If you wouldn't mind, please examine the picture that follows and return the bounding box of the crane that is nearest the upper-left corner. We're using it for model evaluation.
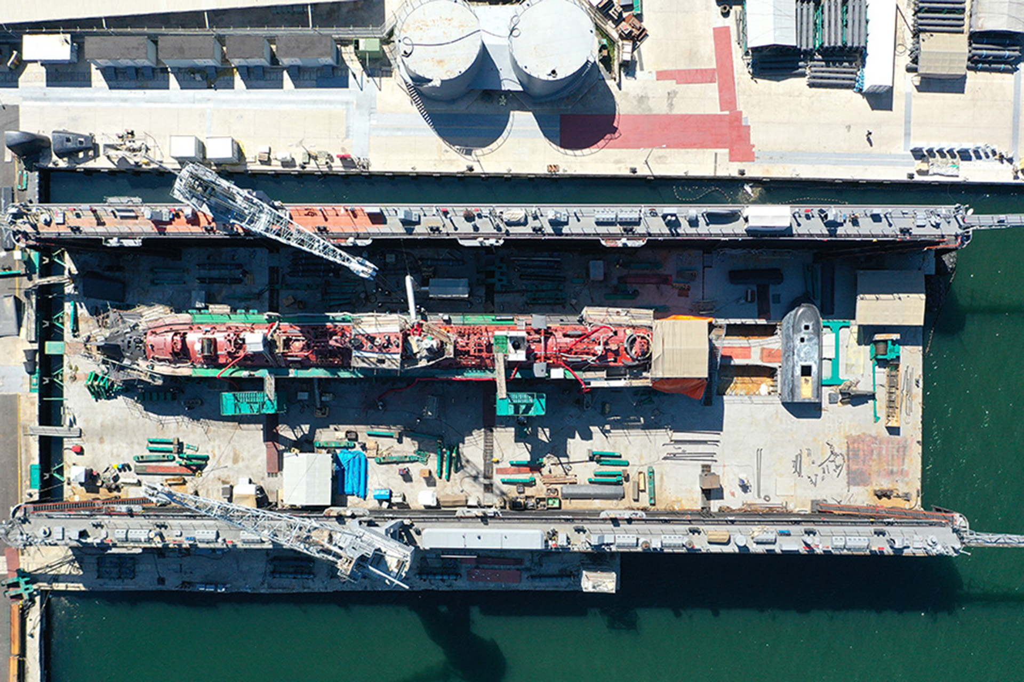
[140,150,408,302]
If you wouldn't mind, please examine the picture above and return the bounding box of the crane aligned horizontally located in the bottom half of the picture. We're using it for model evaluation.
[145,479,433,591]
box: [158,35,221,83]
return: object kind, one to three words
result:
building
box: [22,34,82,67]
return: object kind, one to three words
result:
shed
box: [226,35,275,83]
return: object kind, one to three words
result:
building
